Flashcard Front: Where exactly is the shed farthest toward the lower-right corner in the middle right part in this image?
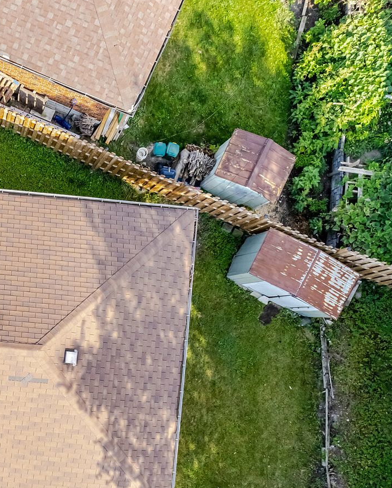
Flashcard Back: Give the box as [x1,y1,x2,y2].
[231,228,362,320]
